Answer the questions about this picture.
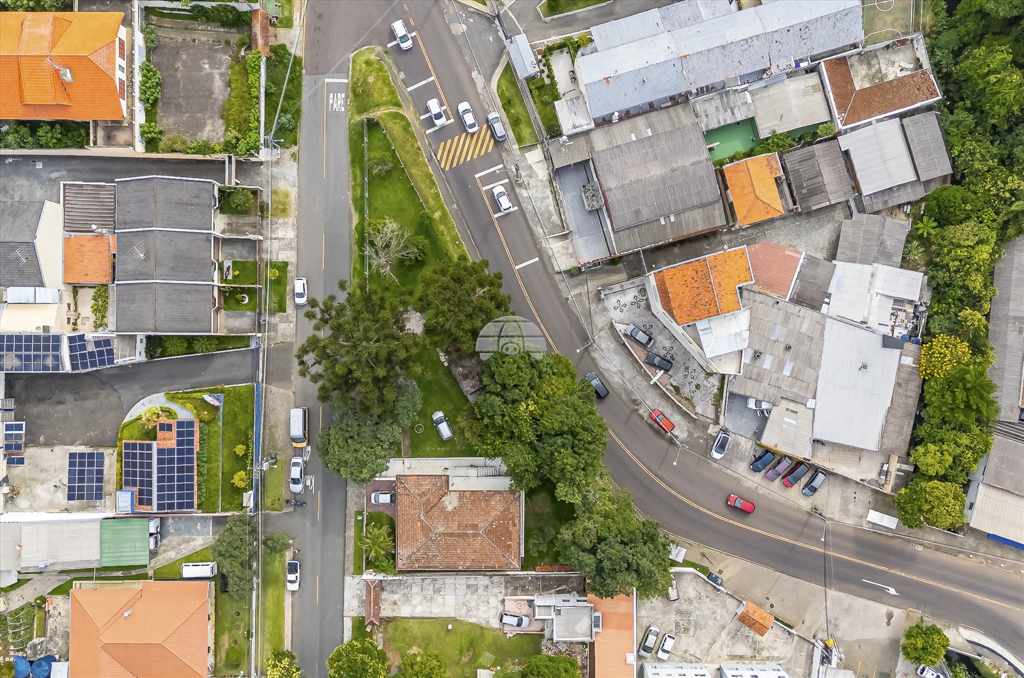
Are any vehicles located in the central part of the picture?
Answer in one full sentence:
Yes, I can see a vehicle in the central part of the picture.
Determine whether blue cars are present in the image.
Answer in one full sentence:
Yes, a blue car appears in the view.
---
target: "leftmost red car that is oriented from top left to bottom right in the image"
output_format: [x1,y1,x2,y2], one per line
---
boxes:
[650,409,676,434]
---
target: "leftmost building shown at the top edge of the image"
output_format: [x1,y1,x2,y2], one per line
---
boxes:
[0,11,133,126]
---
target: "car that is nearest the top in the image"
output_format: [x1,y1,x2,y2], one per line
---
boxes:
[392,21,412,49]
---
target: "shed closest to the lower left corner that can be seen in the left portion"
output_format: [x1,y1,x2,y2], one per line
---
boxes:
[27,634,46,660]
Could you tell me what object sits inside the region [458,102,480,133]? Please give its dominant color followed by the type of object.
white car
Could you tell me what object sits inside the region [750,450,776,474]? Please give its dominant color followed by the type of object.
blue car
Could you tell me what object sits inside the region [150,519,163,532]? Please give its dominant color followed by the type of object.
white vehicle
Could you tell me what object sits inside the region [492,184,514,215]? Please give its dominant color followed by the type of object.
white car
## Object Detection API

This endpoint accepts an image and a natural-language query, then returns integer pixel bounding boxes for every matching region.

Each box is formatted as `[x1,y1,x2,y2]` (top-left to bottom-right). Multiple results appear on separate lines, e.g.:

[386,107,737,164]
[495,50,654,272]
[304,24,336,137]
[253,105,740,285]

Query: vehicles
[492,184,514,215]
[640,626,660,657]
[150,519,163,532]
[432,410,453,441]
[285,559,301,592]
[371,491,396,505]
[500,611,530,629]
[150,535,161,547]
[458,102,480,133]
[728,494,756,514]
[487,111,507,141]
[392,21,412,49]
[225,265,231,278]
[782,463,811,489]
[645,352,675,374]
[625,324,655,349]
[180,562,217,579]
[746,399,770,414]
[766,456,792,481]
[293,277,308,307]
[656,633,676,661]
[290,459,305,490]
[585,372,611,399]
[426,99,446,127]
[802,469,829,496]
[291,408,308,445]
[750,450,776,474]
[711,430,730,458]
[667,573,681,601]
[650,409,676,434]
